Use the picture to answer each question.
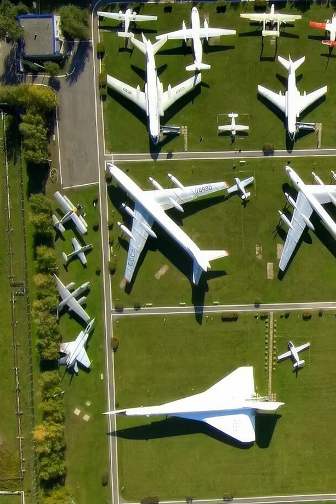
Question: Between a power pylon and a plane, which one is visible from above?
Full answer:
Of the two, only a plane appears.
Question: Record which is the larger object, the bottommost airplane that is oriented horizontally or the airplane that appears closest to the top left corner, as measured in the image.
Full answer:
The bottommost airplane that is oriented horizontally takes up more space than the airplane that appears closest to the top left corner does.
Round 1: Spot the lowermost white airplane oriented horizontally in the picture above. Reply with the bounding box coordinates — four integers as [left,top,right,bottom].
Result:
[105,364,282,442]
